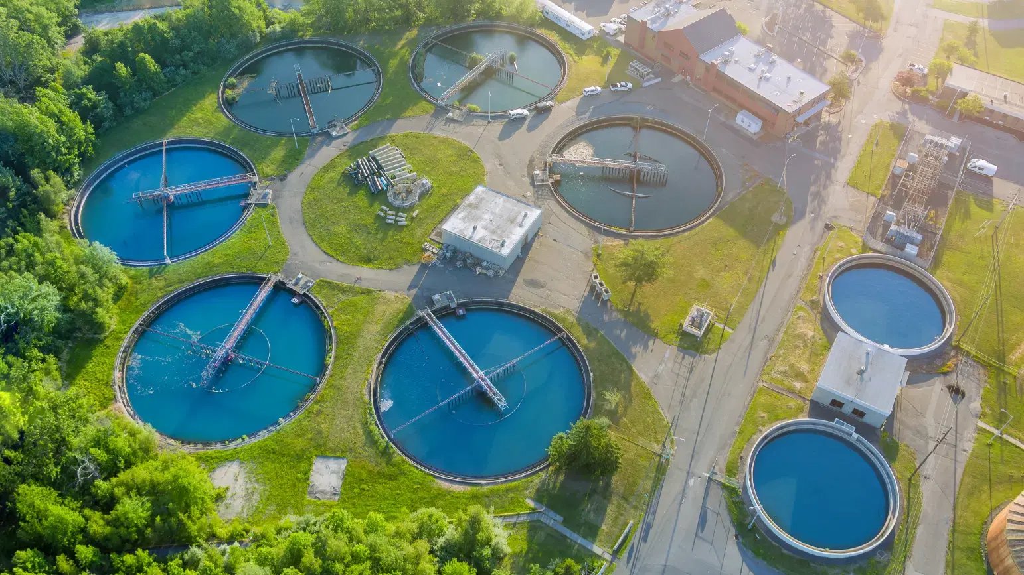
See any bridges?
Yes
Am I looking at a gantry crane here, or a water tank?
water tank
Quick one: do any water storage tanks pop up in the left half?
Yes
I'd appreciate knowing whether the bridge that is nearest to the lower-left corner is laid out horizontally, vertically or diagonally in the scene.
diagonally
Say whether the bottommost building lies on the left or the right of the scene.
right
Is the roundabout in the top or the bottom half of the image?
top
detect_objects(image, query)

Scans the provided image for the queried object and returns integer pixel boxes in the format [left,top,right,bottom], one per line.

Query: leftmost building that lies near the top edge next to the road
[621,0,832,139]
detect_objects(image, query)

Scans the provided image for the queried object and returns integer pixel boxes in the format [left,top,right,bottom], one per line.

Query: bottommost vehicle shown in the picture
[969,158,1001,175]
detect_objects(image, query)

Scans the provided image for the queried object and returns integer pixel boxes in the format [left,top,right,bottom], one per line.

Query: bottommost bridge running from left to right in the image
[132,171,262,204]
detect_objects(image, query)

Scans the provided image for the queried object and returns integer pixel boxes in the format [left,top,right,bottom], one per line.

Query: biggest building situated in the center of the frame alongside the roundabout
[434,184,542,272]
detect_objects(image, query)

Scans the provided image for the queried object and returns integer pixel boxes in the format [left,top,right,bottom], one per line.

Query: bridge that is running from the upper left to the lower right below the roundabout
[417,303,509,412]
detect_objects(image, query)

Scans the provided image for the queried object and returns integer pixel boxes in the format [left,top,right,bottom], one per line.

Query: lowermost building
[810,331,910,430]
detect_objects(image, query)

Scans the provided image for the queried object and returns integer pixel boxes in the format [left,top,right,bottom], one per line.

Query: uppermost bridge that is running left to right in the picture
[545,151,667,176]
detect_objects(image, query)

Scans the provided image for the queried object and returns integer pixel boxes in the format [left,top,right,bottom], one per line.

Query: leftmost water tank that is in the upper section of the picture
[66,135,273,268]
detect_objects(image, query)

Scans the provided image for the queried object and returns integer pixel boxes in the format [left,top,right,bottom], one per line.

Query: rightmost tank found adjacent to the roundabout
[534,113,729,237]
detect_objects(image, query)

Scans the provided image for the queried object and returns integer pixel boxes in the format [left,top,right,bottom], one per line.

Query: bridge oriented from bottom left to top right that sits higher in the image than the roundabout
[435,46,505,107]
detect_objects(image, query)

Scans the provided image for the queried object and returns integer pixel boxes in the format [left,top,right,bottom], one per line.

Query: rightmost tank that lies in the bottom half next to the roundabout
[368,289,595,487]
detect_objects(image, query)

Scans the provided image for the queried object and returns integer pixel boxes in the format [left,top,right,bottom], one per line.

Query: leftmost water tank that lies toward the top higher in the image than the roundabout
[216,36,384,139]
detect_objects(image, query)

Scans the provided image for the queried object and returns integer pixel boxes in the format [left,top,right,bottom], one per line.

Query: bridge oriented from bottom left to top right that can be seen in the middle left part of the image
[197,269,284,390]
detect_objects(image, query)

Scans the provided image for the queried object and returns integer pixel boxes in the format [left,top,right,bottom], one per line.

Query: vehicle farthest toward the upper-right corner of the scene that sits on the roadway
[907,62,931,74]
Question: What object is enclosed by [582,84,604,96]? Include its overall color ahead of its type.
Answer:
white vehicle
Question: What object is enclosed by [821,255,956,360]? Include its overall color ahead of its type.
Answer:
blue water tank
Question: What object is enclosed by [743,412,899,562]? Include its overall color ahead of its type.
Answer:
blue water tank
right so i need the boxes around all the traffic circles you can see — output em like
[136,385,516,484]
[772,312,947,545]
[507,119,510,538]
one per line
[302,131,486,269]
